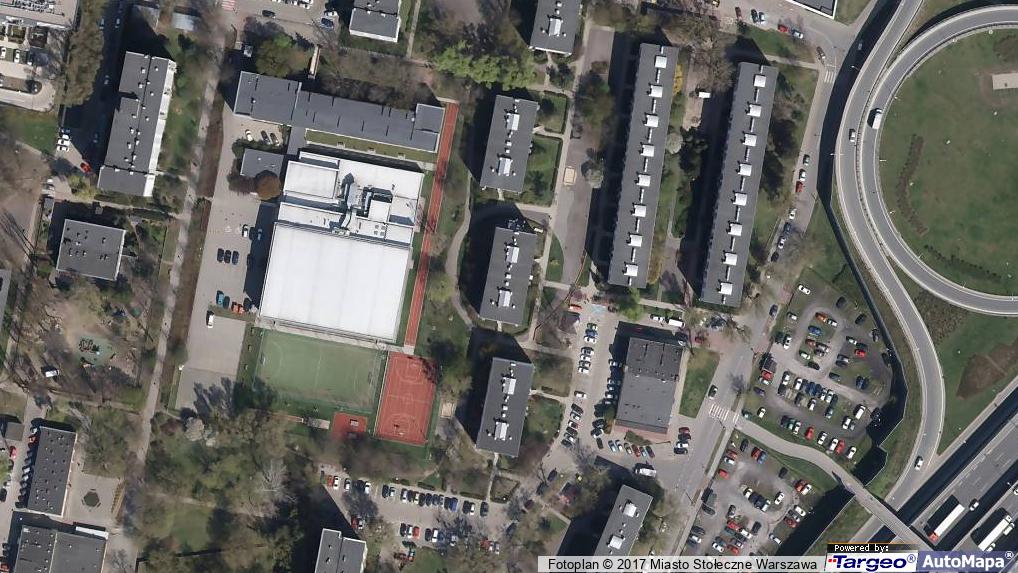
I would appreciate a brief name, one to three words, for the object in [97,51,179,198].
building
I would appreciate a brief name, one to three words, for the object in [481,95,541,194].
building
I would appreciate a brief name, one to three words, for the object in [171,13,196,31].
shed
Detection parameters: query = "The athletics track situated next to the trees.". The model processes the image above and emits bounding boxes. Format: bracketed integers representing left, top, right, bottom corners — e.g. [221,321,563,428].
[402,103,458,355]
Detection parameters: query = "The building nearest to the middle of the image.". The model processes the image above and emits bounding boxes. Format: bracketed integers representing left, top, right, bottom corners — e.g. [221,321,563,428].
[480,227,537,325]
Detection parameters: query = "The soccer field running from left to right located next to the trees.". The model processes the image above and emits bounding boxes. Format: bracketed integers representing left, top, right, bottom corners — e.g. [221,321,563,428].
[253,329,388,415]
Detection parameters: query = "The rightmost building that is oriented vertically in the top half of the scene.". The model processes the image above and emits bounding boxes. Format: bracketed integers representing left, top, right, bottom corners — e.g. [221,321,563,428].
[697,62,778,306]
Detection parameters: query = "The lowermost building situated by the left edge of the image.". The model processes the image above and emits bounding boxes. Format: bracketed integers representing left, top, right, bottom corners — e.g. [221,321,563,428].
[13,523,110,573]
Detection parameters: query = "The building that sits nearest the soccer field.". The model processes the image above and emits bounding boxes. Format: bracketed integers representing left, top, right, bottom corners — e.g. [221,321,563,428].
[258,223,412,346]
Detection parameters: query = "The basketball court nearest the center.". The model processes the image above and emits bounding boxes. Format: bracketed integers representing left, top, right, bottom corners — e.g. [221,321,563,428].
[374,352,438,446]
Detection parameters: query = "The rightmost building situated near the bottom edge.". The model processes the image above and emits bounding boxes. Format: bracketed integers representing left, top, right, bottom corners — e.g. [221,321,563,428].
[586,481,653,573]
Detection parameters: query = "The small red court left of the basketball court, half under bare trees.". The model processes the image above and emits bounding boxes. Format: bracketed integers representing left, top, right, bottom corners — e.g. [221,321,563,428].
[331,414,368,442]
